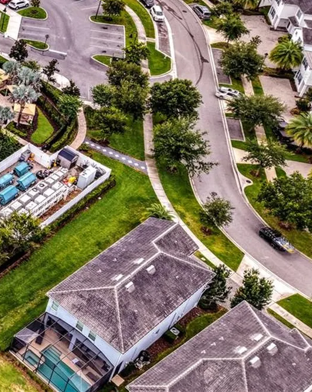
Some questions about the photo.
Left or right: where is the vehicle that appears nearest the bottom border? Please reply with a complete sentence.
You can find the vehicle that appears nearest the bottom border on the right side of the picture.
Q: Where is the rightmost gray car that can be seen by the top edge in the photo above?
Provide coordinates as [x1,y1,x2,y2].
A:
[190,0,216,17]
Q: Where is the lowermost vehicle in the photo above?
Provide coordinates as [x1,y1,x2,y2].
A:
[246,215,301,252]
